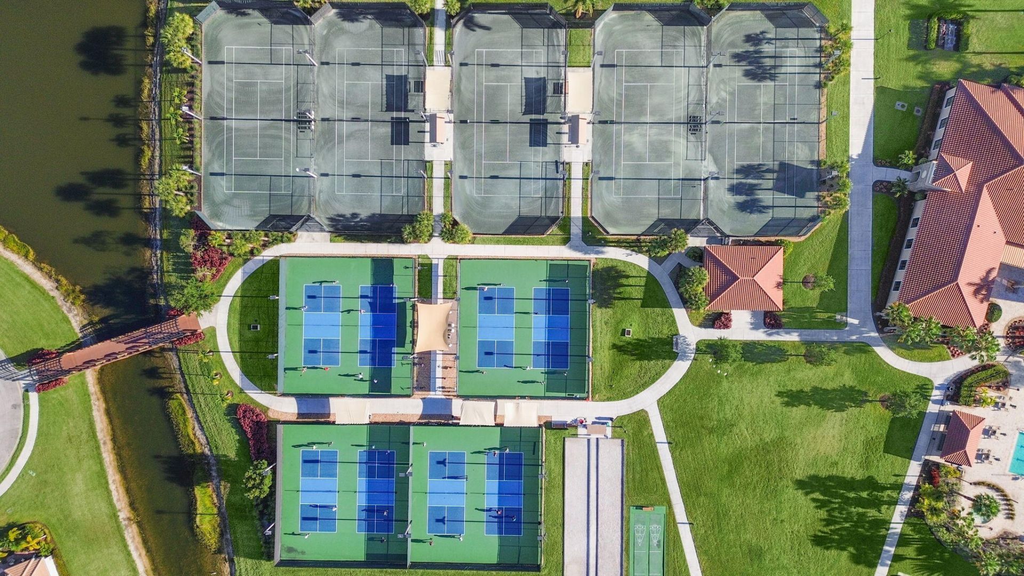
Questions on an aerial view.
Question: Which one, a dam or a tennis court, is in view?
tennis court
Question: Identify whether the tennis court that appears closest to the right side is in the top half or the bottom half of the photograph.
top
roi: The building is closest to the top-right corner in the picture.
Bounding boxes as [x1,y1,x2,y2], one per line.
[889,79,1024,328]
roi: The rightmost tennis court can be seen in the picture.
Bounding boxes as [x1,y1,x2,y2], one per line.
[705,11,822,234]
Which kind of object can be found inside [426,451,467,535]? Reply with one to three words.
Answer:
sports court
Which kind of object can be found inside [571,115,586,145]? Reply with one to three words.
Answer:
shed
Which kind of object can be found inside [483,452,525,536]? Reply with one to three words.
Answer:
sports court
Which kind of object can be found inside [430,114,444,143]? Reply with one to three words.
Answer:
shed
